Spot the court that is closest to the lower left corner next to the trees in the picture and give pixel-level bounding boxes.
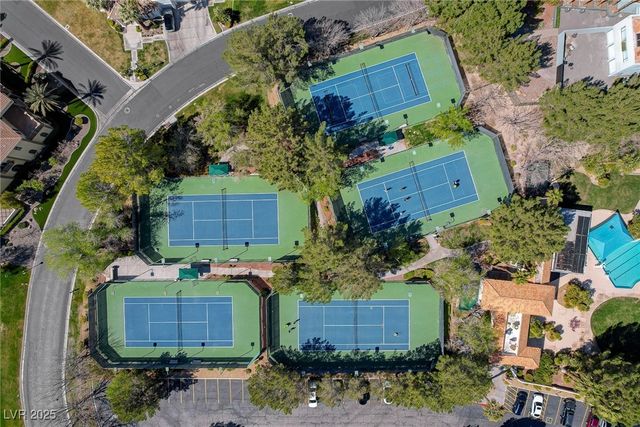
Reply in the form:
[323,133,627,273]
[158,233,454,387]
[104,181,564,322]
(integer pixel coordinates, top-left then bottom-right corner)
[97,280,262,363]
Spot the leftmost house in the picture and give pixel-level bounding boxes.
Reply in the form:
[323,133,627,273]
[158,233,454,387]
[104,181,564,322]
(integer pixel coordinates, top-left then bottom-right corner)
[0,83,58,190]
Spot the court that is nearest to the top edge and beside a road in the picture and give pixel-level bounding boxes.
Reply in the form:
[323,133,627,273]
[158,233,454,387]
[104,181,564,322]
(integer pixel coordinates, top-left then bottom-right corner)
[279,31,461,157]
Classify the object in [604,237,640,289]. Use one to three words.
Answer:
swimming pool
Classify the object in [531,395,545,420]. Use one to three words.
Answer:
vehicle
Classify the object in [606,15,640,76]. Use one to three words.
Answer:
house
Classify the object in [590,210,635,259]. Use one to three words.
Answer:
swimming pool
